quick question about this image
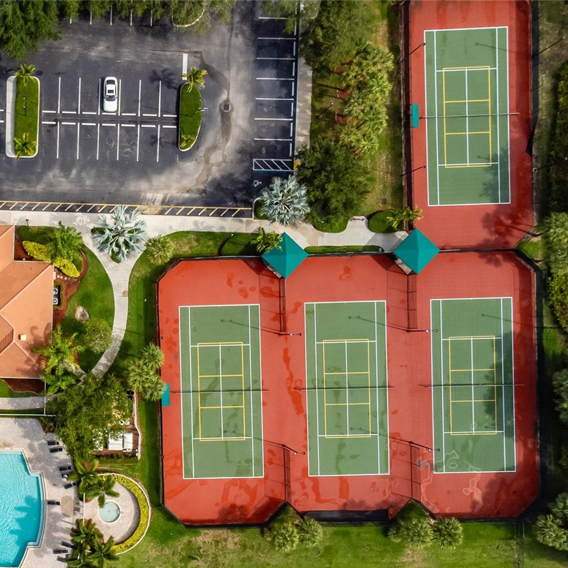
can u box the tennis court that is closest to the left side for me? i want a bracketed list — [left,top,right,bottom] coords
[156,258,285,525]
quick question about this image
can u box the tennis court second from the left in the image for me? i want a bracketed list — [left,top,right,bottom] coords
[282,253,412,522]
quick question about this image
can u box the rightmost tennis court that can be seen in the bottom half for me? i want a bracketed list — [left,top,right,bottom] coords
[409,250,540,521]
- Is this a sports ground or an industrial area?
sports ground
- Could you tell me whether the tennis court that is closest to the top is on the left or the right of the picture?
right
